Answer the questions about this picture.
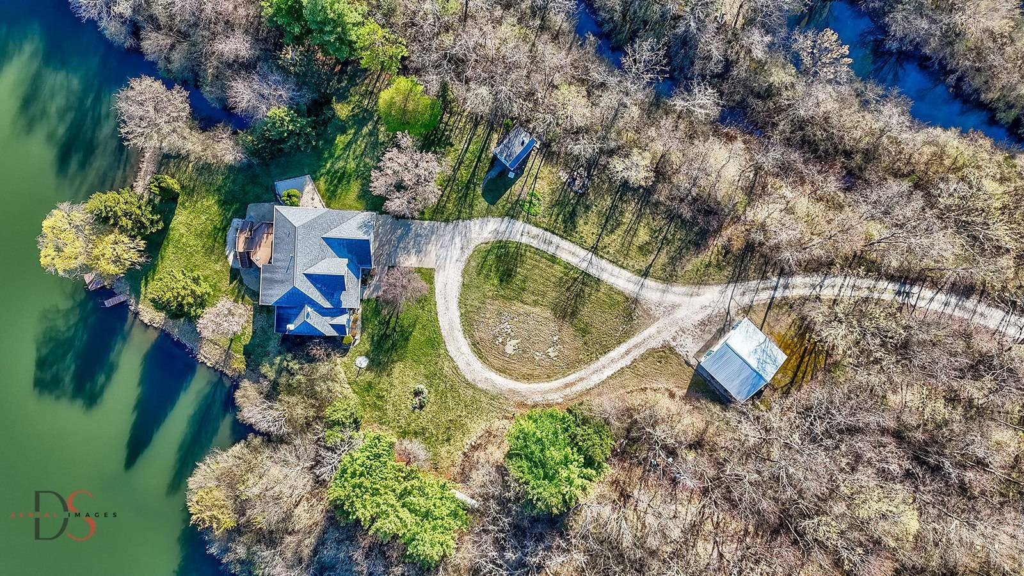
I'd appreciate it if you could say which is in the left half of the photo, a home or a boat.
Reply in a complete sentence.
Looking in the left half of the photo, you will find a home.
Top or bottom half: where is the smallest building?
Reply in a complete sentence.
You can find the smallest building in the top half.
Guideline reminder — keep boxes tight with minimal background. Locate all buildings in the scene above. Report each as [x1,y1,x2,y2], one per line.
[493,125,538,171]
[697,317,788,404]
[259,206,378,336]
